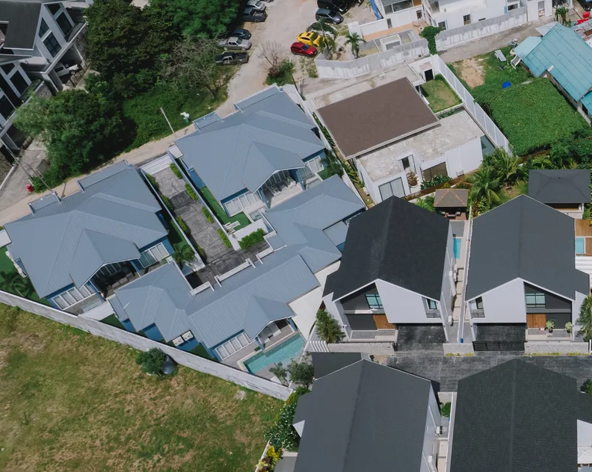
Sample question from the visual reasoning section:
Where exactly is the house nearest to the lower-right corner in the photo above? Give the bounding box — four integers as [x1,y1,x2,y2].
[450,358,588,472]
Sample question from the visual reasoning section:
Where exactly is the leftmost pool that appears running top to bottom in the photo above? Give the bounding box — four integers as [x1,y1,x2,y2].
[453,235,466,262]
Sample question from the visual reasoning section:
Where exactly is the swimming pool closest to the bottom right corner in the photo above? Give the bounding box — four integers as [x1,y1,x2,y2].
[574,235,587,256]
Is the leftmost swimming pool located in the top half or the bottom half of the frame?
bottom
